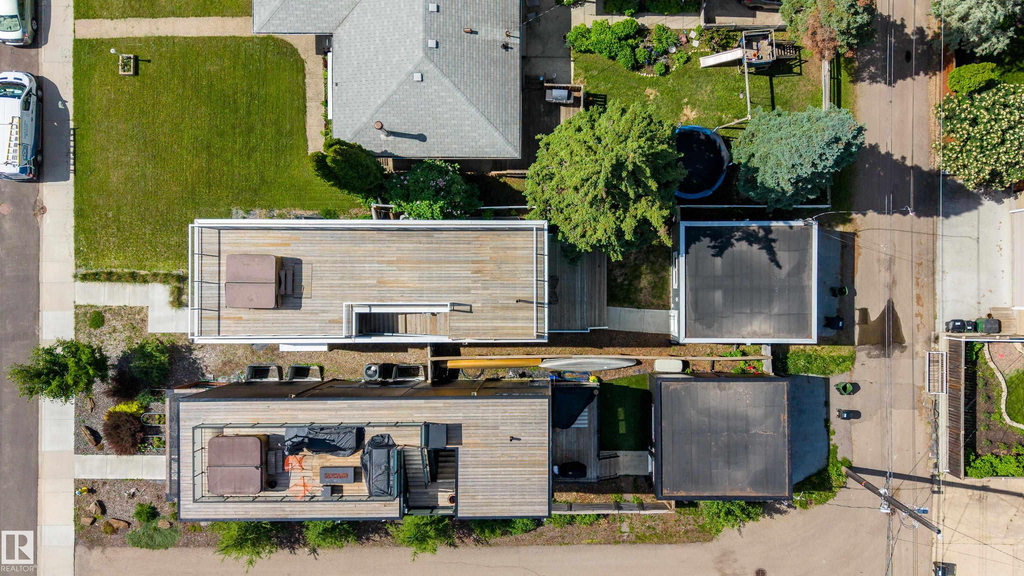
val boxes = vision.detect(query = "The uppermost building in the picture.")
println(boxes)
[250,0,524,161]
